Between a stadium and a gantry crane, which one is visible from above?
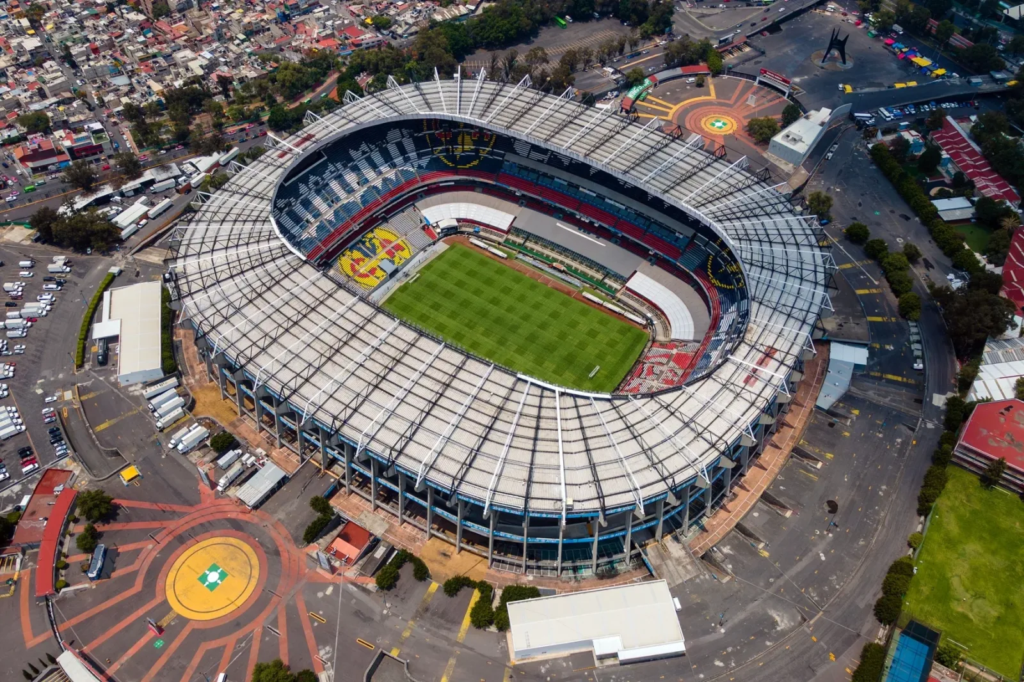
stadium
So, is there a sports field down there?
Yes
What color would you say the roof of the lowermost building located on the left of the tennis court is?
white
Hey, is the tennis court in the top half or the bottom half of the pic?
bottom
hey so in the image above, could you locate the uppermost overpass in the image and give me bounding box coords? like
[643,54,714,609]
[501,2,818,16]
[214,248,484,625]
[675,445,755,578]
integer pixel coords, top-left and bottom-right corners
[723,0,817,36]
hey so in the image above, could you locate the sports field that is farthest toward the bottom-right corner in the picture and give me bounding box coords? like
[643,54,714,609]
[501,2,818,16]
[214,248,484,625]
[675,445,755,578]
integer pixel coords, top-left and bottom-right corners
[901,468,1024,682]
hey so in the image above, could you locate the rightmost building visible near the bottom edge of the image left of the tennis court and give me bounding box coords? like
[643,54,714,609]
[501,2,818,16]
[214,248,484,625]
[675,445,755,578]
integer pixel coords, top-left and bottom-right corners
[508,579,686,671]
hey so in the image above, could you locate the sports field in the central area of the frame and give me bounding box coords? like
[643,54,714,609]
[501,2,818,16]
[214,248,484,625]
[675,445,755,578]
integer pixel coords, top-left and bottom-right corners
[378,243,647,392]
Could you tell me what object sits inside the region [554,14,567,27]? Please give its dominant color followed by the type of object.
green vehicle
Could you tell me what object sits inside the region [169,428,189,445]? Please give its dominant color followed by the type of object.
white vehicle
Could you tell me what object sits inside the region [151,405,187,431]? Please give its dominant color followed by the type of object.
white truck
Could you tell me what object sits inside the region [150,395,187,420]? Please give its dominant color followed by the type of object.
white truck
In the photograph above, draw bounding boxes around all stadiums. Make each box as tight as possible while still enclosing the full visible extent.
[170,68,833,582]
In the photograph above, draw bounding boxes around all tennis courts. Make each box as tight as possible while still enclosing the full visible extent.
[886,635,929,682]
